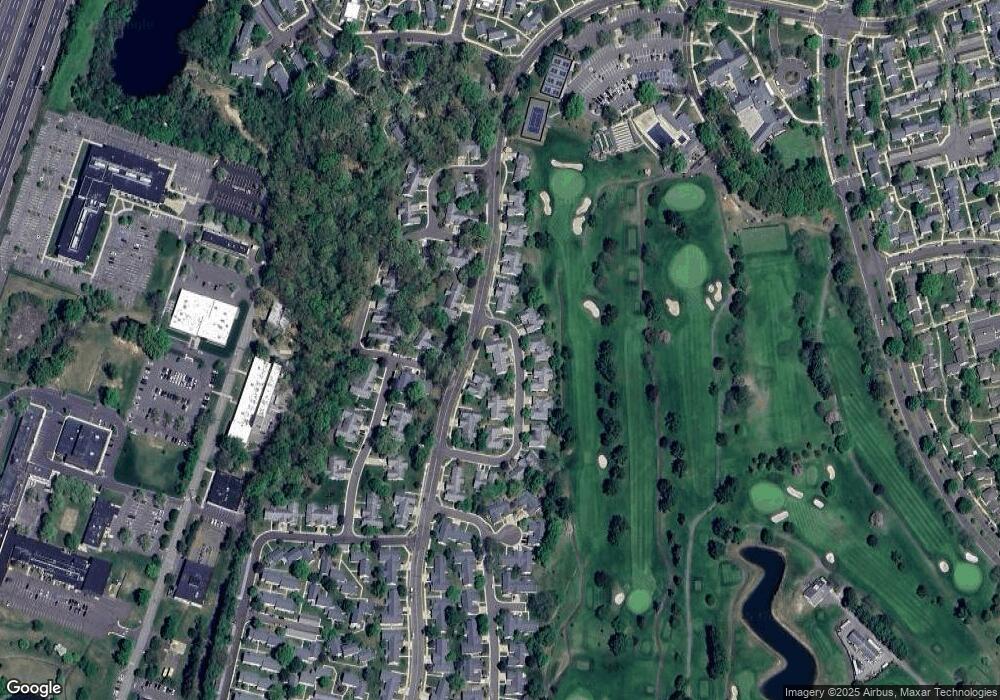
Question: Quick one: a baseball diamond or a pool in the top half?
pool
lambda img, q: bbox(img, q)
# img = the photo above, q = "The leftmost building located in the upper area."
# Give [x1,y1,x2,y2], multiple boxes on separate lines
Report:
[58,144,175,265]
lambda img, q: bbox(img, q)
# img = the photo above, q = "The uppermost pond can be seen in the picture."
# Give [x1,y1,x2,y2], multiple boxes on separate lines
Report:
[112,0,205,97]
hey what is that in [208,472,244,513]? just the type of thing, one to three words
building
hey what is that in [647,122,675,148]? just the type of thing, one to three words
swimming pool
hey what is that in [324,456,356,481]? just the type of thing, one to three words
house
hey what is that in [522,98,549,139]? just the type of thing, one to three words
tennis court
